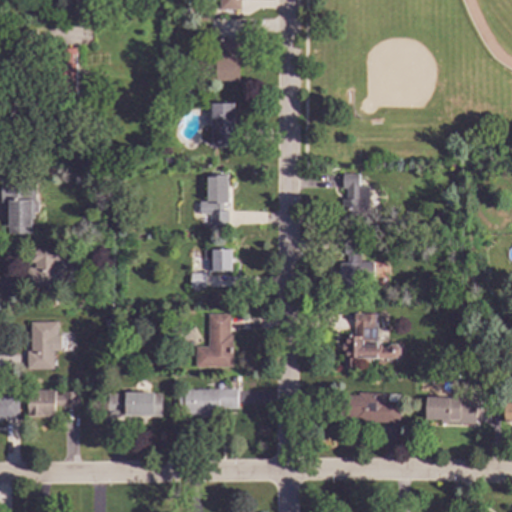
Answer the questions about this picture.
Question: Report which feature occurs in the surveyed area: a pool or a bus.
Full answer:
There is a pool in the scene.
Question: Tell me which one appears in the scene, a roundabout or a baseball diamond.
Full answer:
The one in the frame is a baseball diamond.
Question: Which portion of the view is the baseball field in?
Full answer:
The baseball field sits in the top right section of the image.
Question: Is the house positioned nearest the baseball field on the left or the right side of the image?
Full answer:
It is on the right.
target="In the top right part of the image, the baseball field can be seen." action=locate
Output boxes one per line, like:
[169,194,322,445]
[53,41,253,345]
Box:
[360,37,439,115]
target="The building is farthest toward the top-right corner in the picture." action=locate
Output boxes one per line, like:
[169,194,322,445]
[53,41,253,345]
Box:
[343,174,371,213]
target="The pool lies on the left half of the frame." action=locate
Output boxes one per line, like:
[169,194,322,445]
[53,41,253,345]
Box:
[178,108,202,149]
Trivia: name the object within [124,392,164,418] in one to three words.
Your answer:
house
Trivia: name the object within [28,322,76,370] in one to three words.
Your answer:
house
